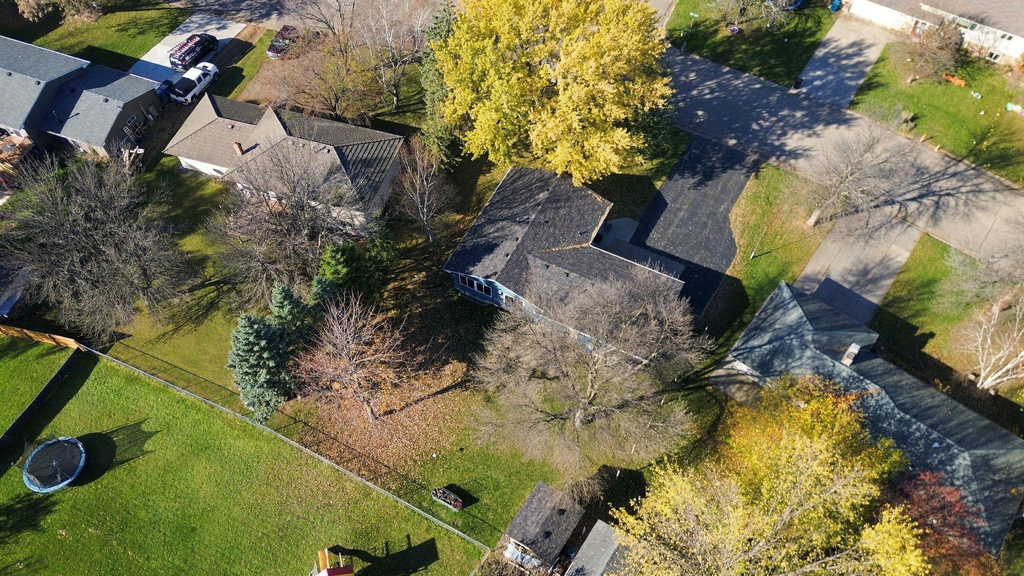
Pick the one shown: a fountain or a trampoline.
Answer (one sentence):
Of the two, only a trampoline appears.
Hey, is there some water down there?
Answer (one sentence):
No, water can't be seen anywhere here.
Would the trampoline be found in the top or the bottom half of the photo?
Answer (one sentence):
You can find the trampoline in the bottom half.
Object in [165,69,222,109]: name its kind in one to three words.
truck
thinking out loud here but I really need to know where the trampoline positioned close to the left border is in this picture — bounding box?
[4,425,88,496]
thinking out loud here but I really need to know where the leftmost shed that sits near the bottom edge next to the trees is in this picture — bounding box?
[505,481,586,570]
